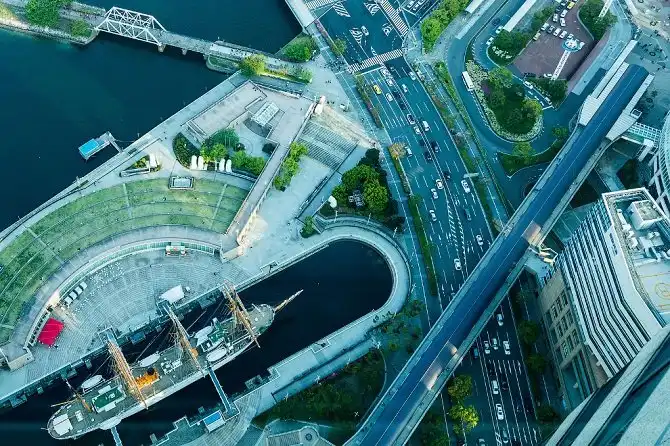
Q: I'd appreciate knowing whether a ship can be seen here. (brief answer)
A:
Yes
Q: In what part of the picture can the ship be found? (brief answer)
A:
bottom left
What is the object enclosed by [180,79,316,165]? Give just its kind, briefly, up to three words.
building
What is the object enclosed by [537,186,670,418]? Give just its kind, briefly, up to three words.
building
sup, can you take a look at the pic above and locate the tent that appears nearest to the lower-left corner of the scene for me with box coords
[38,318,66,347]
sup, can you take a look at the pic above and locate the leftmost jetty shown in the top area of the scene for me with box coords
[79,131,123,164]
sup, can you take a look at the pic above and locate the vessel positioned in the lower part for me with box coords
[27,267,302,441]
